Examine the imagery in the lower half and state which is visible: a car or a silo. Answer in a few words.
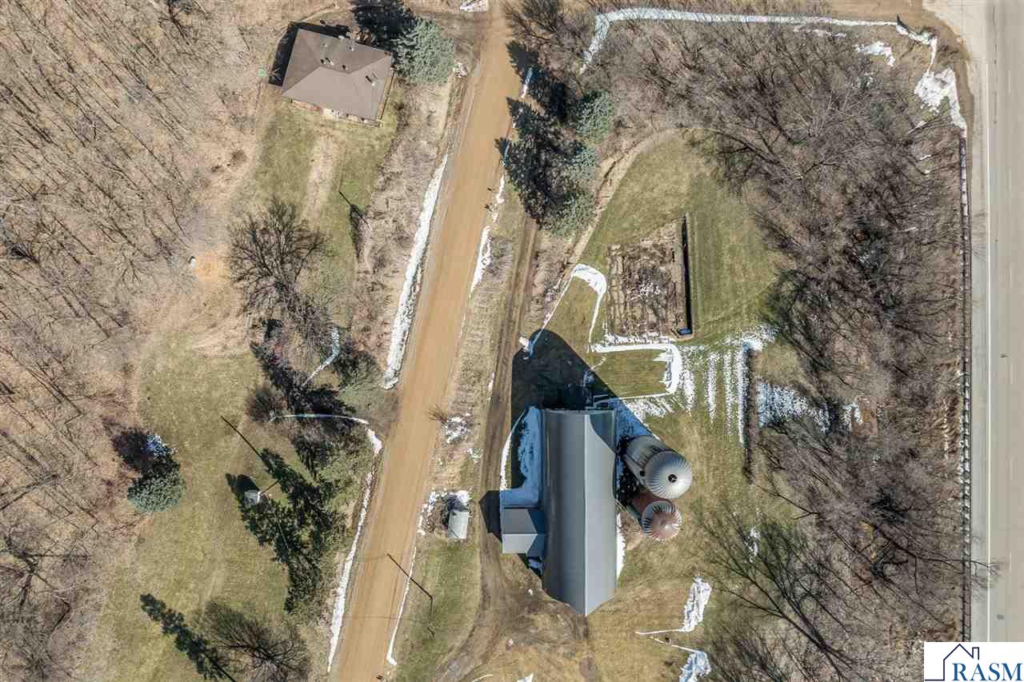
silo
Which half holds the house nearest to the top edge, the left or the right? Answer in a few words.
left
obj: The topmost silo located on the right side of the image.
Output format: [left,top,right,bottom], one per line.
[621,435,694,501]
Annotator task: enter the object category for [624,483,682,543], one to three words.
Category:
silo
